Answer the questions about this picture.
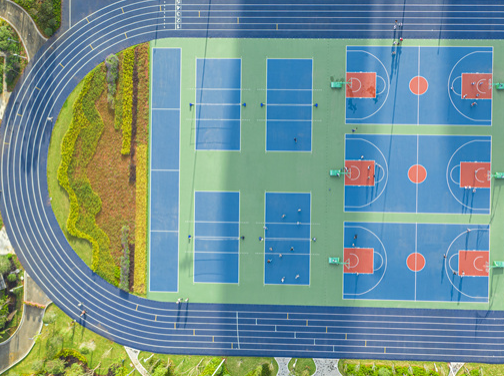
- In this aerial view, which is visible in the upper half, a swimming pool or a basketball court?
basketball court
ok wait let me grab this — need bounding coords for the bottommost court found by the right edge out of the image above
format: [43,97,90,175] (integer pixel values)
[342,221,490,303]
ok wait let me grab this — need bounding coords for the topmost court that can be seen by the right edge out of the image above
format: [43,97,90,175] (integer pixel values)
[345,46,494,126]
